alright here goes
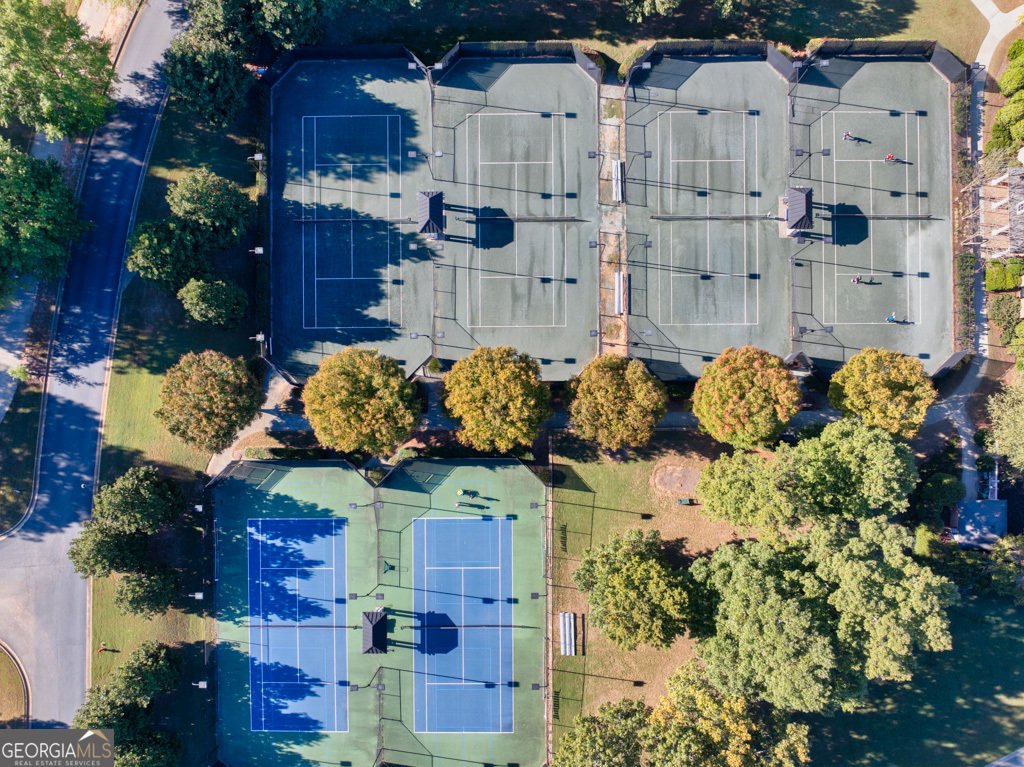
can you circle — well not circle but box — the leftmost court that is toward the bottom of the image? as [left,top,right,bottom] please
[214,460,381,767]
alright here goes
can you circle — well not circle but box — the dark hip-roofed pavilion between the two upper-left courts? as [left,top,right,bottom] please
[418,189,446,241]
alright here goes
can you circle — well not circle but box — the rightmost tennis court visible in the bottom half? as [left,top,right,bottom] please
[374,458,546,767]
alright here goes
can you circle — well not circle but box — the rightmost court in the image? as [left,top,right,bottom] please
[790,56,952,377]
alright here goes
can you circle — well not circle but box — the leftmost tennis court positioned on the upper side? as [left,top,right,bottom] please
[272,59,433,380]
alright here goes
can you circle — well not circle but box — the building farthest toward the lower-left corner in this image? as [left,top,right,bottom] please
[361,608,388,654]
